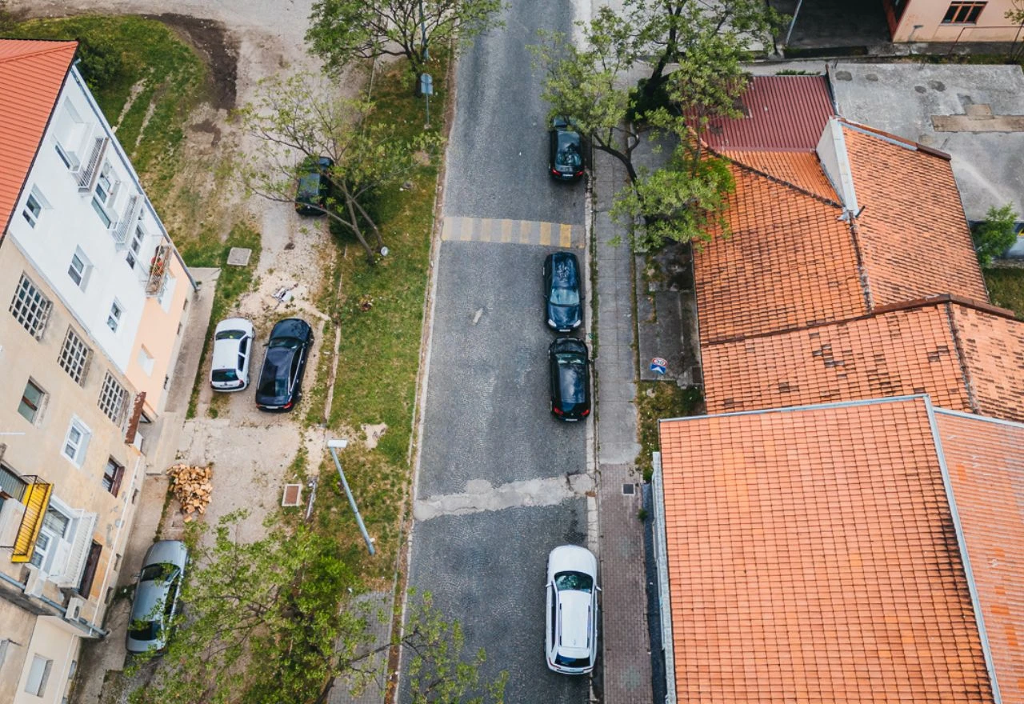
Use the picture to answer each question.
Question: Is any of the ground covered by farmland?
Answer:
No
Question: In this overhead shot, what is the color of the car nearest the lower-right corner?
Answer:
white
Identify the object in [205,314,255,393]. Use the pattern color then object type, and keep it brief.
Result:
white car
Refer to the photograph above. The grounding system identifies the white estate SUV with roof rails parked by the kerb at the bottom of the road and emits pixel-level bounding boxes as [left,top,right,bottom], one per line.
[543,544,602,676]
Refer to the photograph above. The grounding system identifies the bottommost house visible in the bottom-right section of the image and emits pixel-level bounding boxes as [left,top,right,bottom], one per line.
[647,392,1024,704]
